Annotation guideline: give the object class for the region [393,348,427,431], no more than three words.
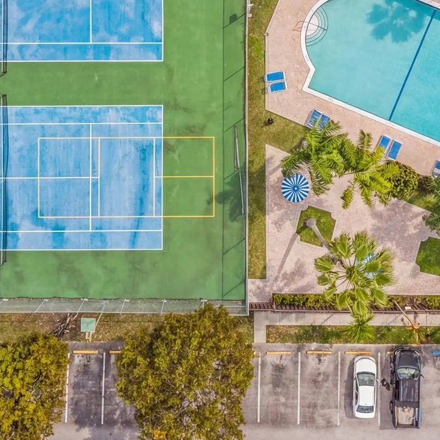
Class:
truck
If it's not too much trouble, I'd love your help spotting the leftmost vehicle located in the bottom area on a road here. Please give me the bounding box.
[352,358,381,424]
